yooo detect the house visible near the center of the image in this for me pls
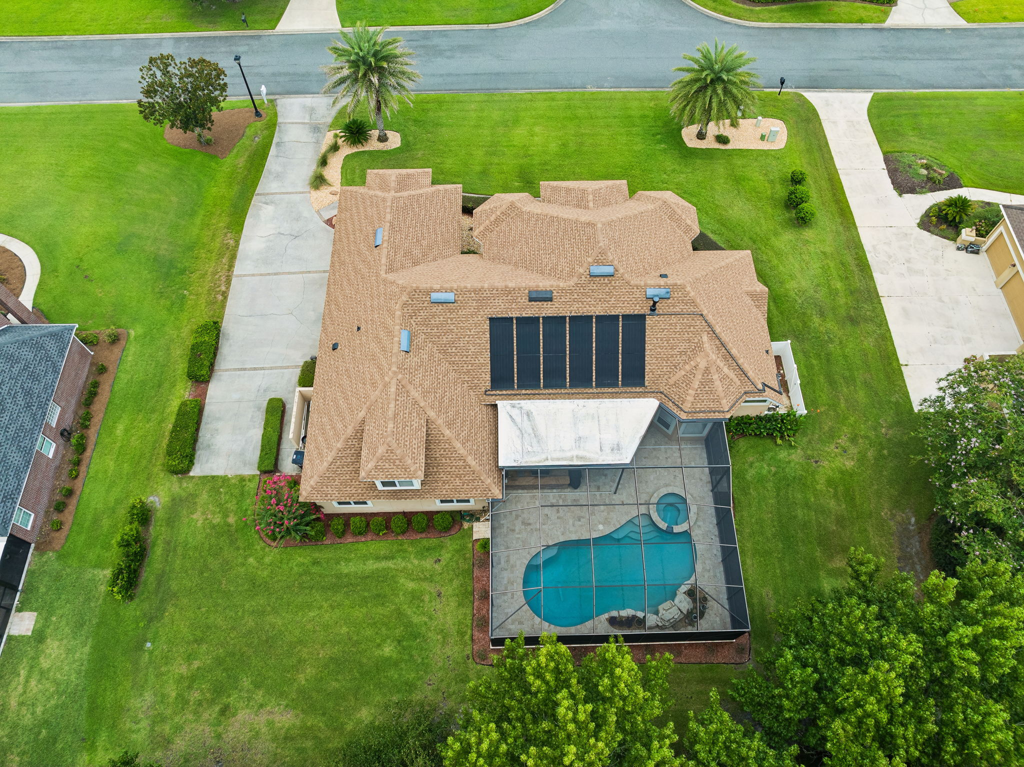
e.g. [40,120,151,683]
[298,169,787,517]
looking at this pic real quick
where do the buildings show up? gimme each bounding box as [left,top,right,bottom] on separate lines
[298,169,787,517]
[0,274,96,543]
[979,202,1024,395]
